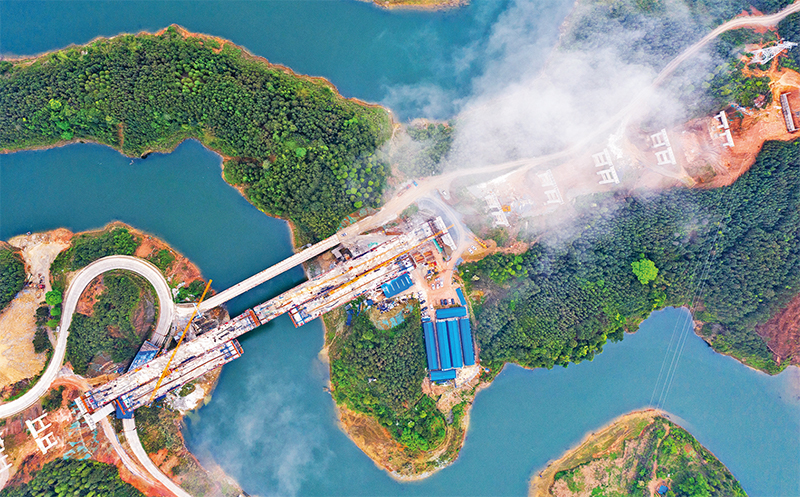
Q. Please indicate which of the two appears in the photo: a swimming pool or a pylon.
pylon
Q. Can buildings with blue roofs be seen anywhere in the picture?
Yes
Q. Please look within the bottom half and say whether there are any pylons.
No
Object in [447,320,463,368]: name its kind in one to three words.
building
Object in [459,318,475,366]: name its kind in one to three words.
building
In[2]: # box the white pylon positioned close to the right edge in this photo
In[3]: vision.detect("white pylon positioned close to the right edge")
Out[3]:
[746,37,799,69]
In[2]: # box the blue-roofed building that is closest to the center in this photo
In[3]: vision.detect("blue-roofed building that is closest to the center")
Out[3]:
[381,273,413,298]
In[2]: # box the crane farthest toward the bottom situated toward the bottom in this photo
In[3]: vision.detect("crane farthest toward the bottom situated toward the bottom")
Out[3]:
[152,281,213,398]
